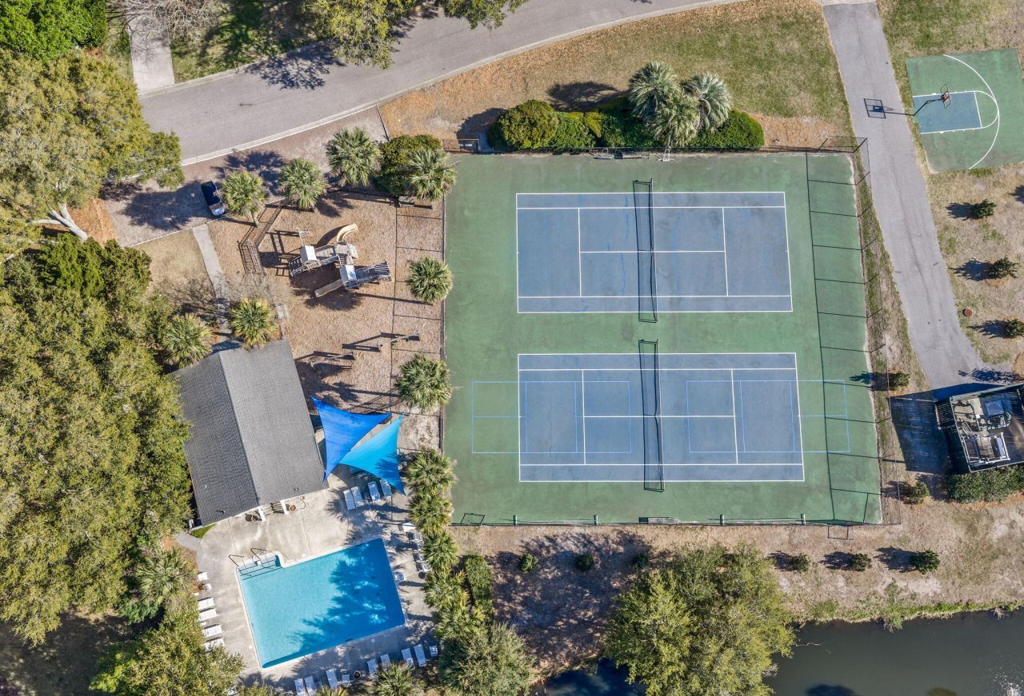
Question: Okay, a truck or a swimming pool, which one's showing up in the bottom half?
swimming pool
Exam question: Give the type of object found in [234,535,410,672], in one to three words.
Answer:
swimming pool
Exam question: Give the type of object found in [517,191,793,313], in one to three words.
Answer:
tennis court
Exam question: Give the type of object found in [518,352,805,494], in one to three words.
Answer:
tennis court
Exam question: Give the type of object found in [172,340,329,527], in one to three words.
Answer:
building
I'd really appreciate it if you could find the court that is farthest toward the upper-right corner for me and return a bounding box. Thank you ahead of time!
[906,48,1024,172]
